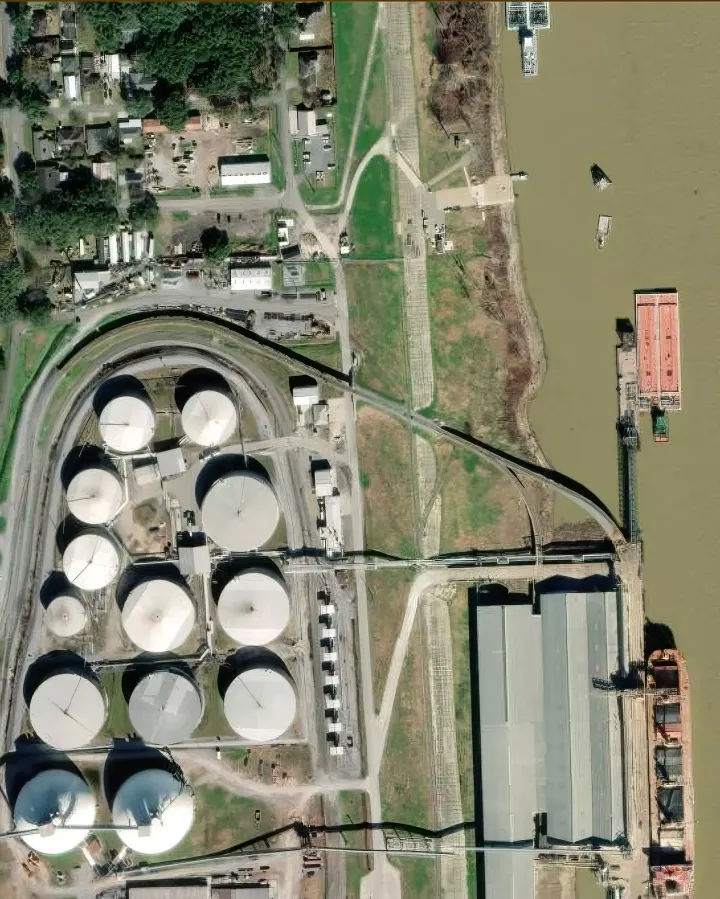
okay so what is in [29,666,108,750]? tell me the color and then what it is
white storage tank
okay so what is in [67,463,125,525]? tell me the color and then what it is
white storage tank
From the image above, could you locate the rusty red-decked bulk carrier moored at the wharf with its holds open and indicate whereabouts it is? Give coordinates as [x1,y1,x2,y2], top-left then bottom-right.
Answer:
[649,647,694,899]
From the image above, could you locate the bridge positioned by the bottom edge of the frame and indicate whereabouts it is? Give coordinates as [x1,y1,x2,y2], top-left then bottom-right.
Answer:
[535,851,612,865]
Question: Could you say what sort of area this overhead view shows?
port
